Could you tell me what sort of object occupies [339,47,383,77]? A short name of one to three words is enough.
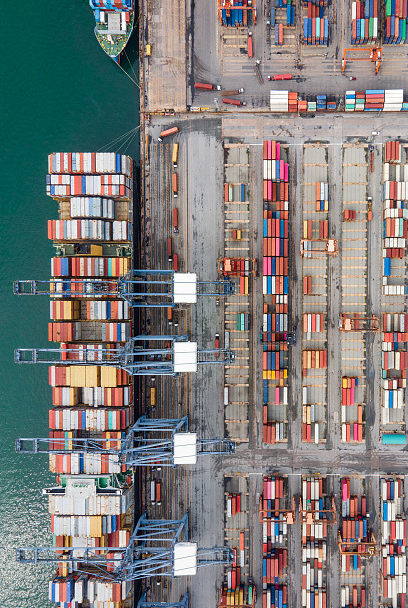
container crane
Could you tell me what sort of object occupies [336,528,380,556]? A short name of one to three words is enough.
container crane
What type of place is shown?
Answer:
port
